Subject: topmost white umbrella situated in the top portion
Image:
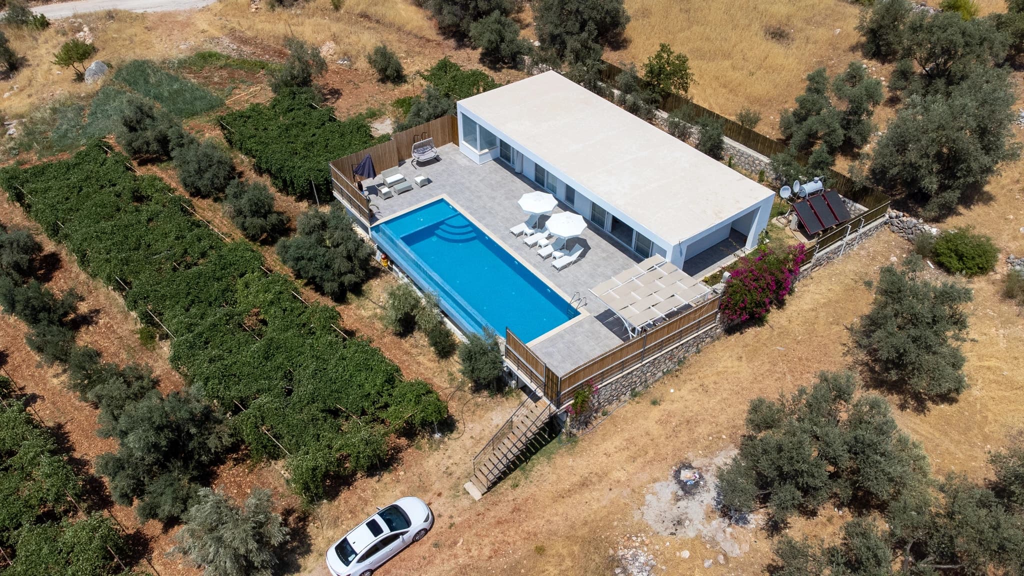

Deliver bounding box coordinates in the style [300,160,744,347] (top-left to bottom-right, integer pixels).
[518,187,560,216]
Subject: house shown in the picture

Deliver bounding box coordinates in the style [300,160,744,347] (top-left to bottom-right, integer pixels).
[457,71,776,297]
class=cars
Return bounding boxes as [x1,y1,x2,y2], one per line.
[321,492,435,576]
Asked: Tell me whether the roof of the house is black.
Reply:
No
